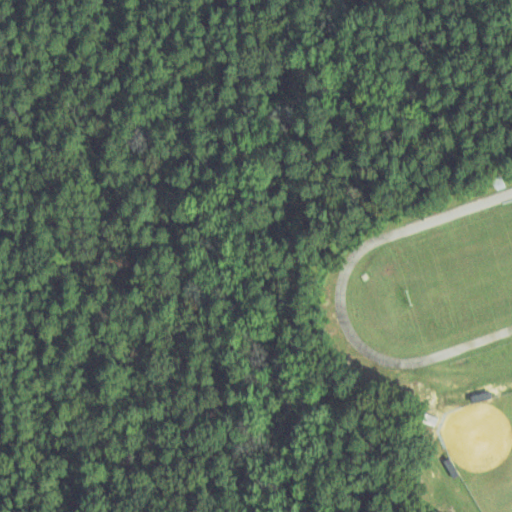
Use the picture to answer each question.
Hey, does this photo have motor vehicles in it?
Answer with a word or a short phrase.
No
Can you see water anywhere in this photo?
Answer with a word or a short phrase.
No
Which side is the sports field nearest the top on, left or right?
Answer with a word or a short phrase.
right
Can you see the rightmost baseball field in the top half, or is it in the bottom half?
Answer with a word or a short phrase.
bottom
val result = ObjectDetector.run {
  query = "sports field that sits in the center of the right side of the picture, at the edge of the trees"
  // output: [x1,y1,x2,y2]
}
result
[345,204,512,360]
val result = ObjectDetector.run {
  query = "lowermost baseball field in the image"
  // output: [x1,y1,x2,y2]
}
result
[440,390,512,512]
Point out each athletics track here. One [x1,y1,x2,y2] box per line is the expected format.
[336,190,512,371]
